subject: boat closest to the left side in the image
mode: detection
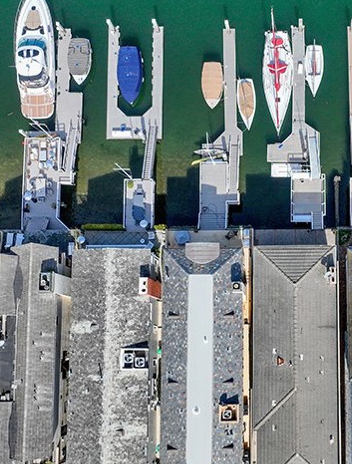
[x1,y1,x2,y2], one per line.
[0,0,60,123]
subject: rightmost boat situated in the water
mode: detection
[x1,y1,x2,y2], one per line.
[302,43,323,97]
